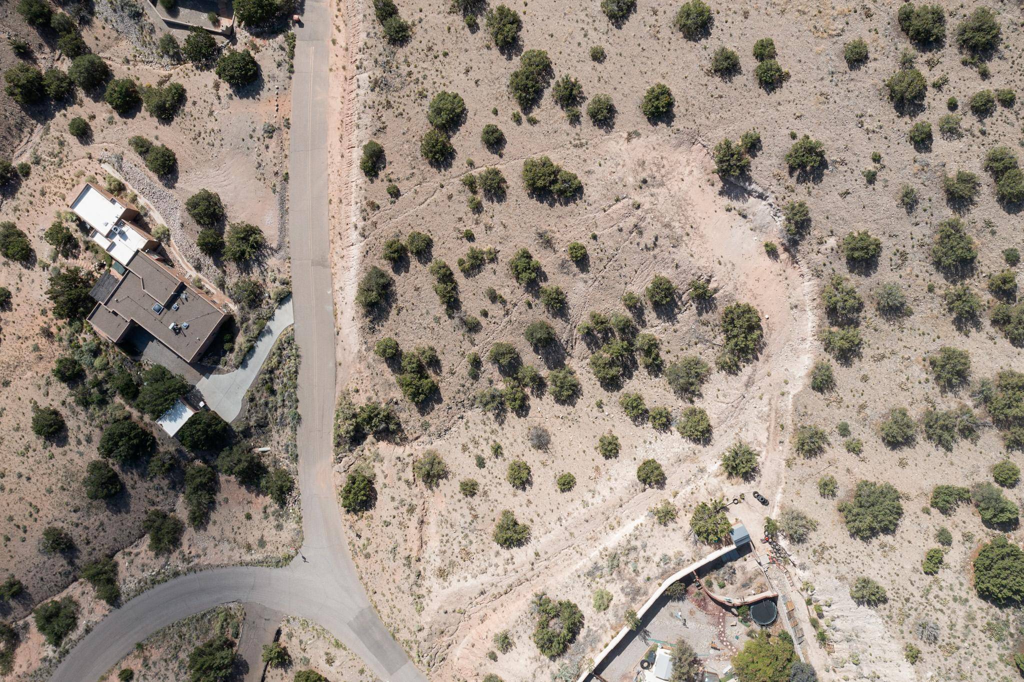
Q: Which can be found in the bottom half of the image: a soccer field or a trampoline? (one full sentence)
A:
What appears in the bottom half of the image is a trampoline.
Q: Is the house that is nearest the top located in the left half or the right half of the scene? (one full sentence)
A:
It is on the left.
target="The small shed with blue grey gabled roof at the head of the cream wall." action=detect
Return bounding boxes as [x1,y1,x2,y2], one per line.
[727,522,750,547]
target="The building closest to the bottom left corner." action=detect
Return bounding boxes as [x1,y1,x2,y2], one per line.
[156,396,202,437]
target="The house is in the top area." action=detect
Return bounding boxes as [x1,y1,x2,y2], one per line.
[69,183,232,362]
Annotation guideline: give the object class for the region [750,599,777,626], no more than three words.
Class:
trampoline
